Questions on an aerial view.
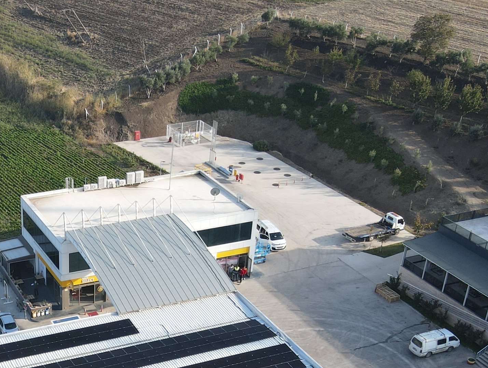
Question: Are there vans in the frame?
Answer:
Yes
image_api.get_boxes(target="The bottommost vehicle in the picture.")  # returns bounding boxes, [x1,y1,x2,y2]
[408,328,461,357]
